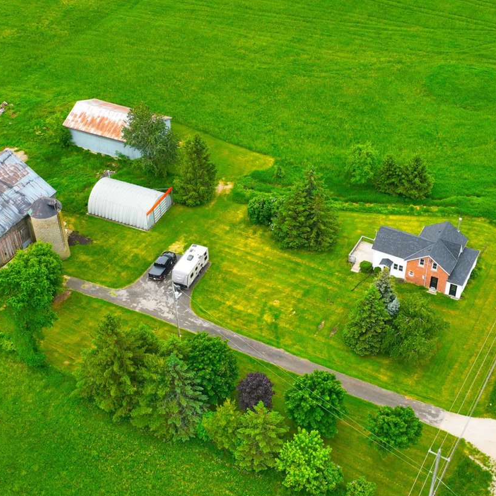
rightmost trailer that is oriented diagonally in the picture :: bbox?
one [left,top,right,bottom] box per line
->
[172,243,209,290]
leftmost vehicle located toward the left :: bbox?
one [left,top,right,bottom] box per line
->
[149,252,179,279]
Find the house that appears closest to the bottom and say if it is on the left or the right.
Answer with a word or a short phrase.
right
